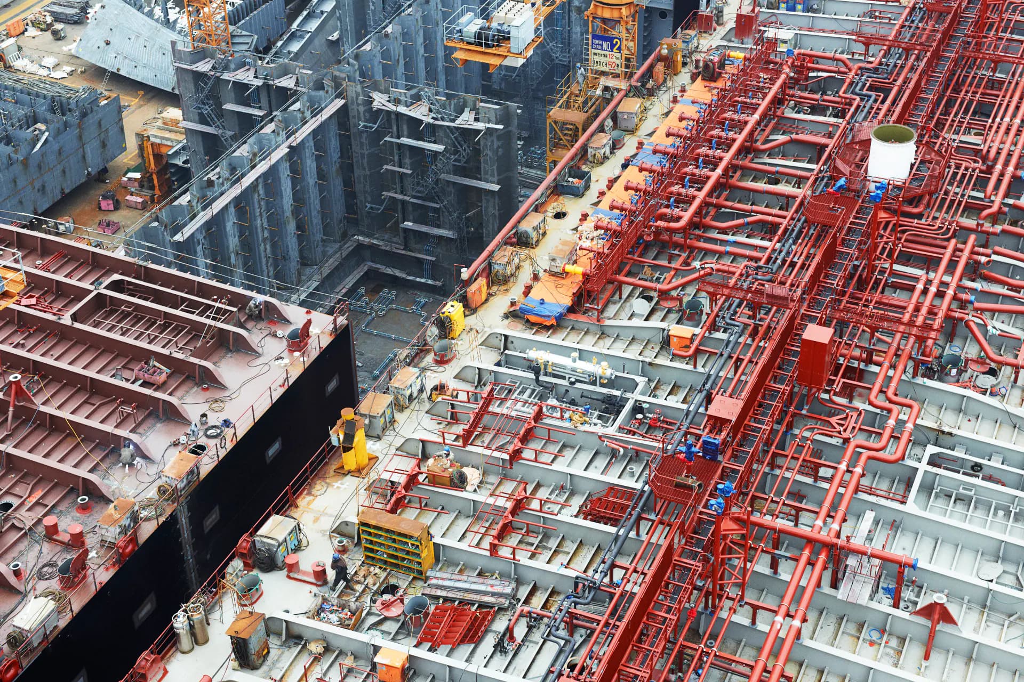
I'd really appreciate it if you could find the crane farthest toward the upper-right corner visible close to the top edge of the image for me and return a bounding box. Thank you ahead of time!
[577,0,642,133]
